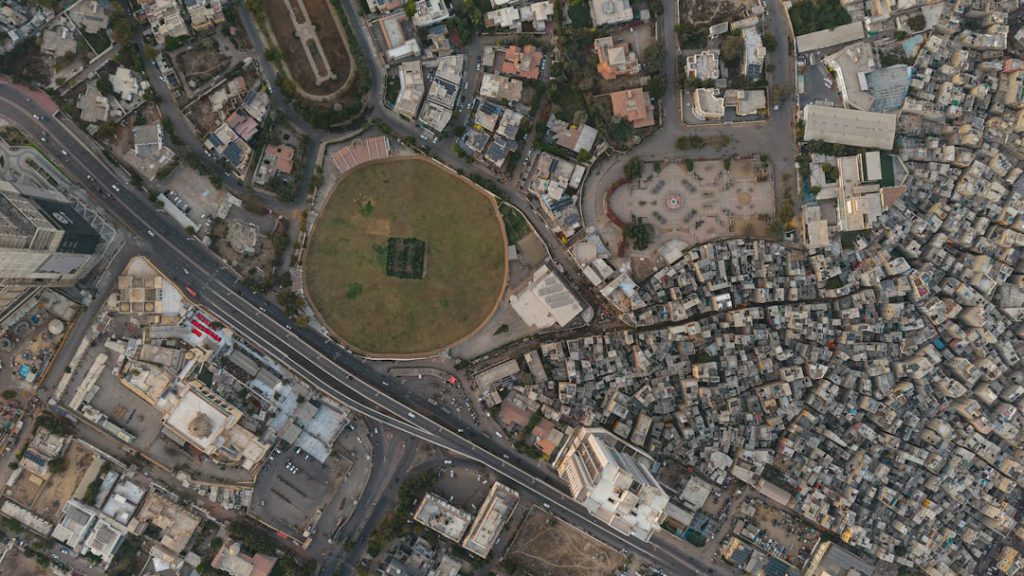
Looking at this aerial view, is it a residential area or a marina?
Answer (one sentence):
It's a residential area.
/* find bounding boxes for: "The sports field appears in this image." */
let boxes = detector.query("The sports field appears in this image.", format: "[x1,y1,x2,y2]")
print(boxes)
[304,156,507,358]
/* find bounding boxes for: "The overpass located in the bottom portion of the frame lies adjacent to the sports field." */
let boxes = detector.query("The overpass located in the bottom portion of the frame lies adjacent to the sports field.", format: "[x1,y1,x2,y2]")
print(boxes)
[202,276,707,576]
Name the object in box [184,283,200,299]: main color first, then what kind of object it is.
red vehicle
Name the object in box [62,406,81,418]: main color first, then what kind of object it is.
gray vehicle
